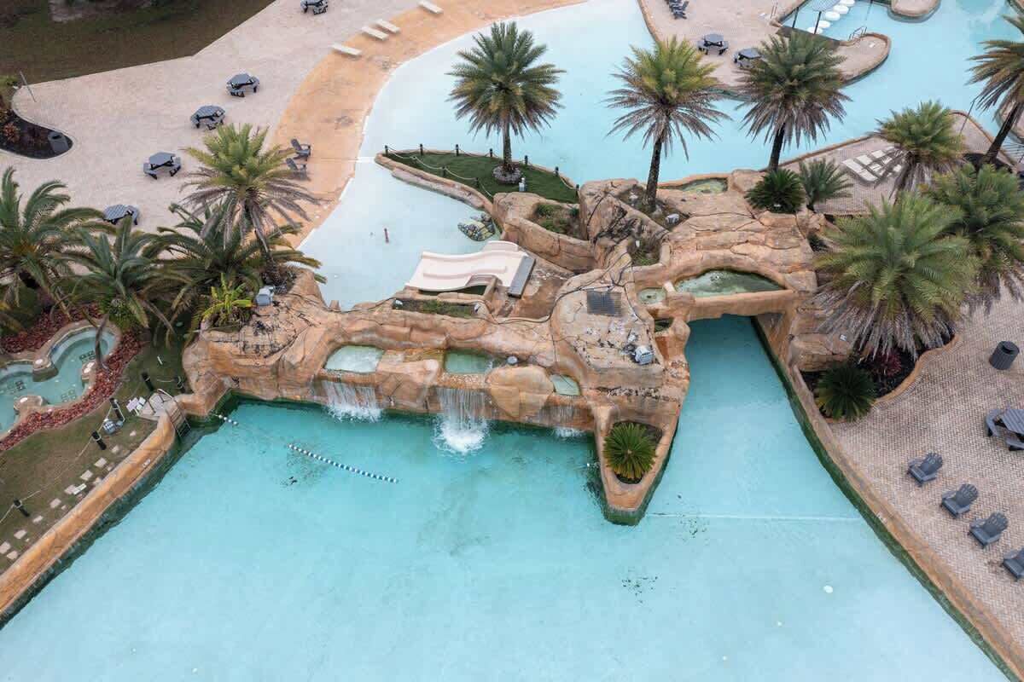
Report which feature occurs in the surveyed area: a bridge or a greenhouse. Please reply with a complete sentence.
The image shows a bridge.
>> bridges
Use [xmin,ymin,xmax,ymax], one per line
[636,169,830,330]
